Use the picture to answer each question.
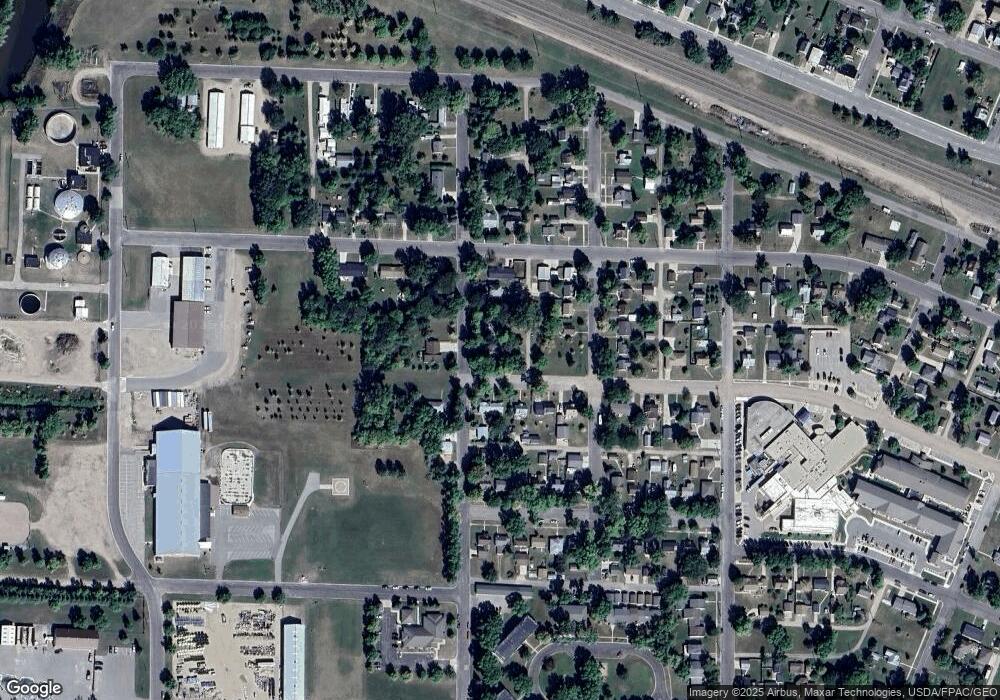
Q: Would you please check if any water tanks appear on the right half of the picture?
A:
No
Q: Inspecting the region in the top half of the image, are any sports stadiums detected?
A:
No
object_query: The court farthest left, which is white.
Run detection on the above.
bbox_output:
[222,448,254,504]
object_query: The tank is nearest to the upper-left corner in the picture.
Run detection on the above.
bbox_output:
[45,111,75,142]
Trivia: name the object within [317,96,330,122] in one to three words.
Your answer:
house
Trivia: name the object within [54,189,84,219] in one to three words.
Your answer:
water tank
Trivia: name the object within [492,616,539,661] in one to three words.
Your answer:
building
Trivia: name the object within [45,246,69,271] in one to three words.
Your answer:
water tank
